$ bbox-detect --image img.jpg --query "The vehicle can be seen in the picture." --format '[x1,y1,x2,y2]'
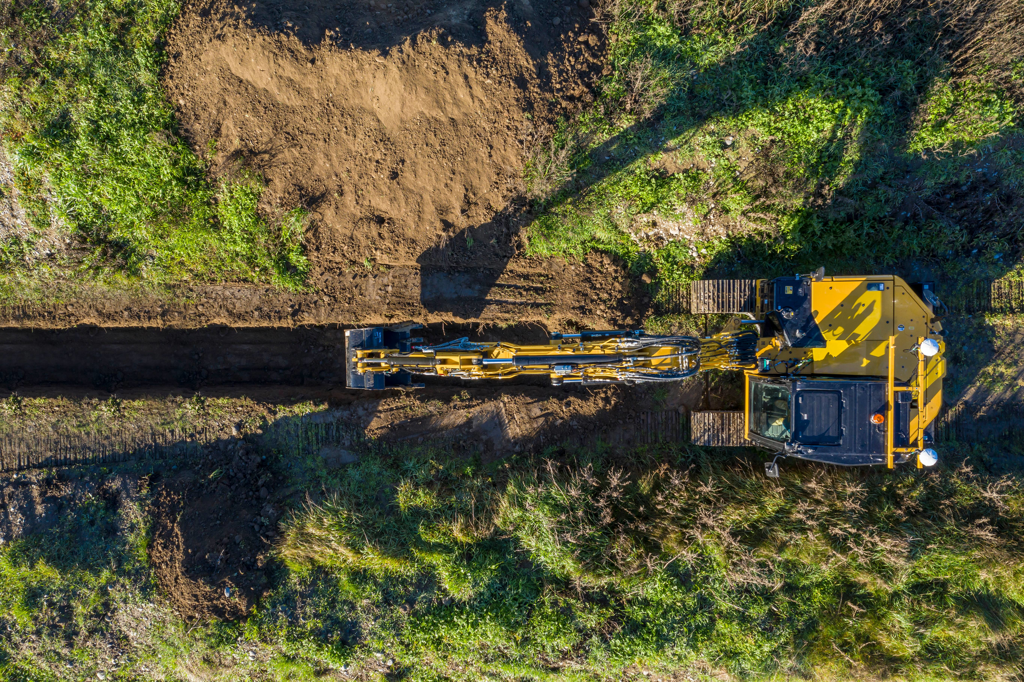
[345,267,950,476]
